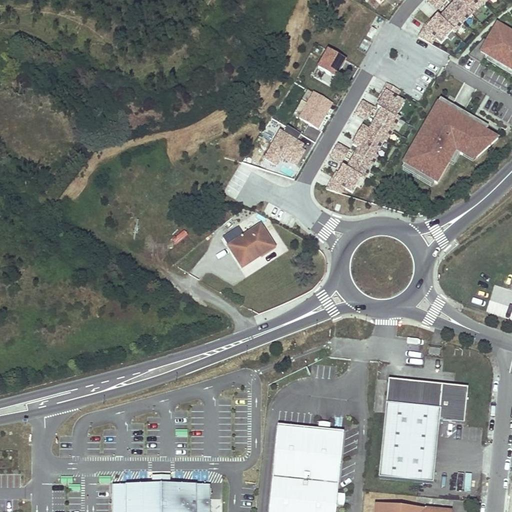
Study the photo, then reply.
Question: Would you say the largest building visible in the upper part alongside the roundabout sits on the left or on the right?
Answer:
right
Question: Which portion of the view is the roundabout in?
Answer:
right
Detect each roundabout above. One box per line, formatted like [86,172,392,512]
[306,210,464,332]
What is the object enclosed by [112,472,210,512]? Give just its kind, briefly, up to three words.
building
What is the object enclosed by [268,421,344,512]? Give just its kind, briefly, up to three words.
building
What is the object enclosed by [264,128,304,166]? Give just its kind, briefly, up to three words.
house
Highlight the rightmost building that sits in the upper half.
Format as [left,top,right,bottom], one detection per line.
[480,20,512,74]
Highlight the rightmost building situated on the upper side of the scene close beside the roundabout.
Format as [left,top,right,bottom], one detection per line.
[402,97,499,188]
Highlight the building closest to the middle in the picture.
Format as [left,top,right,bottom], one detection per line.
[223,221,276,268]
